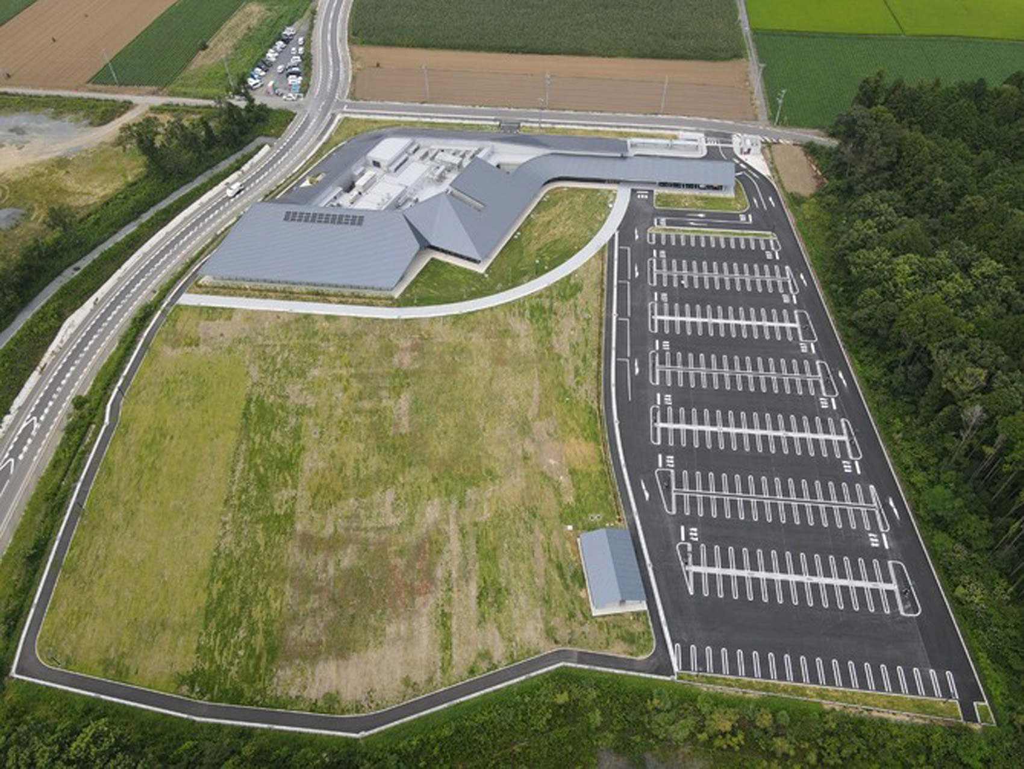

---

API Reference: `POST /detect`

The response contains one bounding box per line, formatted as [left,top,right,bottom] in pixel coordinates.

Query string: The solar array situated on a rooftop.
[284,211,363,225]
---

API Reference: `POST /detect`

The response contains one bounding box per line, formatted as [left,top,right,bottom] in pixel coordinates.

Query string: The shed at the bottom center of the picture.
[577,528,648,616]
